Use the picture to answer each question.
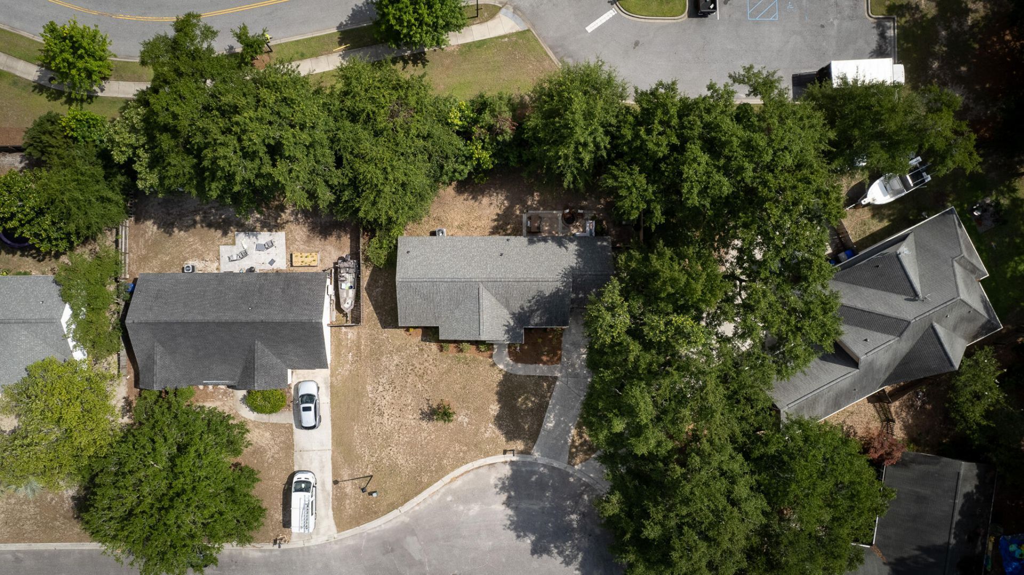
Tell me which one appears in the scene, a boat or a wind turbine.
boat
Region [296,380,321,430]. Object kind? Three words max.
car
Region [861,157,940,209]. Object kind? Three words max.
boat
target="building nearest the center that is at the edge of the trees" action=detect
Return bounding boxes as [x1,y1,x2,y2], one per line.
[395,235,615,343]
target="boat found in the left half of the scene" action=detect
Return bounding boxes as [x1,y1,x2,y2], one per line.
[338,252,355,313]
